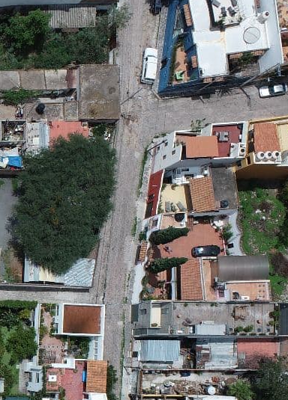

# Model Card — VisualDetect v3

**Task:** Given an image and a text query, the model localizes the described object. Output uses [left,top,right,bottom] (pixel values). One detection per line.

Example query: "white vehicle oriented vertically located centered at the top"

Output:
[142,48,158,83]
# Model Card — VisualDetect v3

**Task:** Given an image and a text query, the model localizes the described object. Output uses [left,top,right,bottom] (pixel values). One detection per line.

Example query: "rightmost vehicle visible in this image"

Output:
[258,82,287,97]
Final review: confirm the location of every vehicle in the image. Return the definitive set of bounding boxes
[142,48,158,83]
[151,0,164,16]
[190,244,219,257]
[258,82,287,97]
